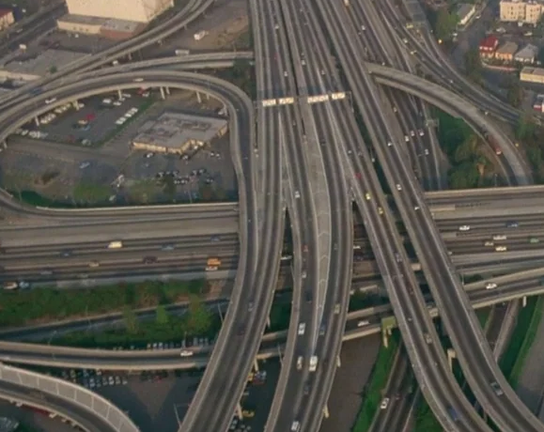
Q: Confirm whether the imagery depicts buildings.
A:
Yes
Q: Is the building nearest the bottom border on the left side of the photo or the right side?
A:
left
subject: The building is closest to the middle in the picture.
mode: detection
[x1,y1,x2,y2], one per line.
[134,113,227,151]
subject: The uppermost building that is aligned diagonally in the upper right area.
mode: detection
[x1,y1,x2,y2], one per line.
[446,2,482,31]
